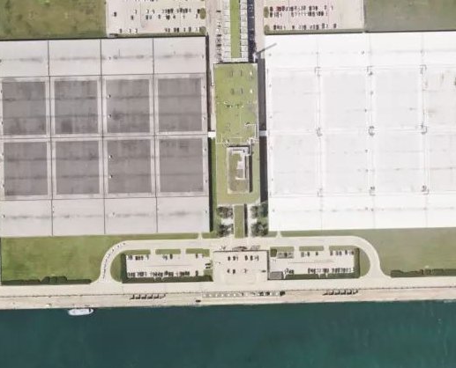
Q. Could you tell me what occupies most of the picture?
buildings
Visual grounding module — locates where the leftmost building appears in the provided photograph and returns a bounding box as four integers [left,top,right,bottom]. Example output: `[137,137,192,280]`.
[0,36,210,237]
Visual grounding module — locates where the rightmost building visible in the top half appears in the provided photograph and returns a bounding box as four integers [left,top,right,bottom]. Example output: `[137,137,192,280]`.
[265,31,456,231]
